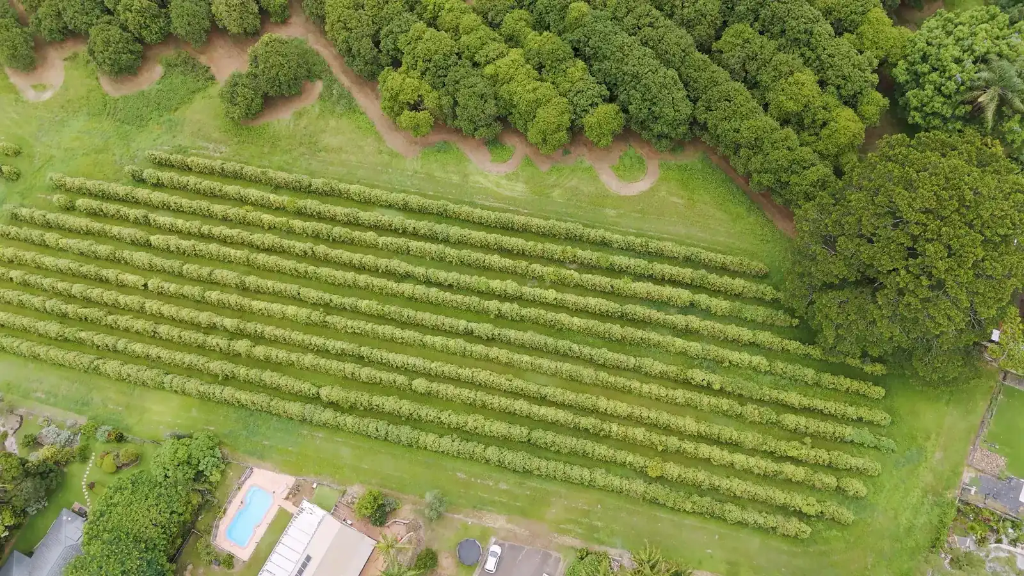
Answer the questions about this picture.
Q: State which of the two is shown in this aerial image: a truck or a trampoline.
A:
trampoline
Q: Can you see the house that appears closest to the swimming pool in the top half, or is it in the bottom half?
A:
bottom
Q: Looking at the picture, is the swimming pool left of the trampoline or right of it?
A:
on the left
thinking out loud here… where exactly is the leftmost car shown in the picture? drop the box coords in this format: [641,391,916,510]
[484,543,502,575]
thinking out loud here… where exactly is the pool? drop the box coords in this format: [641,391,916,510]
[216,468,298,561]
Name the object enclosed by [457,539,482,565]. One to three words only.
trampoline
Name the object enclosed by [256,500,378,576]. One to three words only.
house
